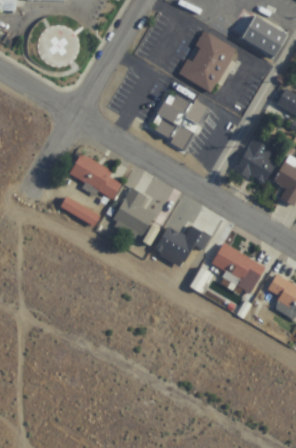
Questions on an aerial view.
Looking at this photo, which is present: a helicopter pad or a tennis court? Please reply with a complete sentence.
This aerial view contains a helicopter pad.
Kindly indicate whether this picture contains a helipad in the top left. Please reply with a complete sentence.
Yes, the scene does show a helipad in the top left.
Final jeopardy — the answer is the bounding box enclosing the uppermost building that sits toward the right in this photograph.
[244,14,288,58]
